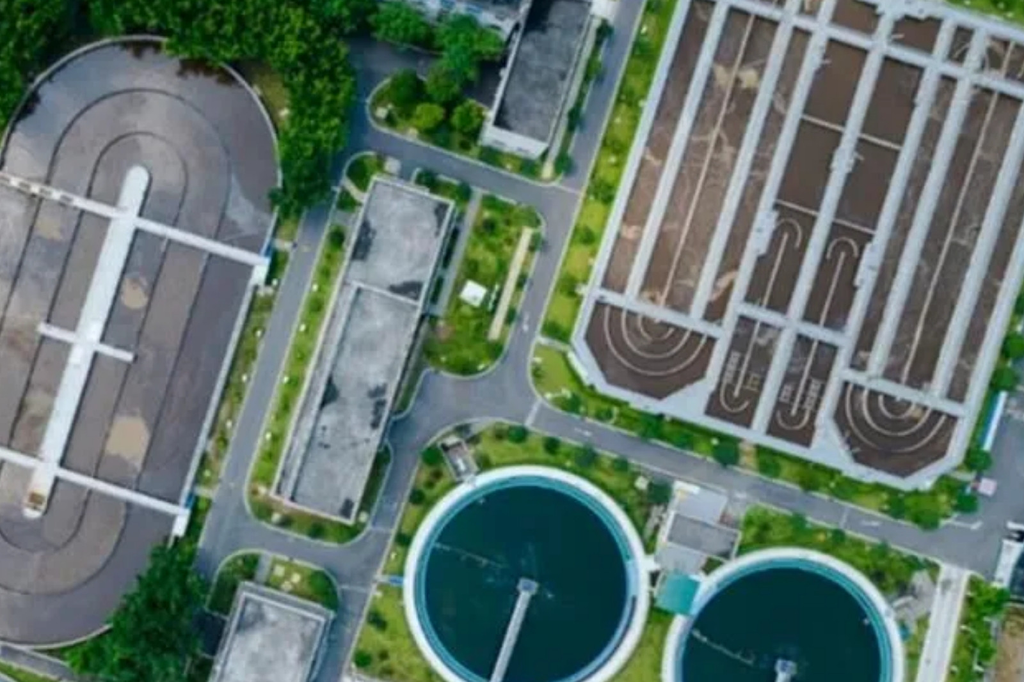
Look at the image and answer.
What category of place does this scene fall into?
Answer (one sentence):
The area seen from above is an industrial area.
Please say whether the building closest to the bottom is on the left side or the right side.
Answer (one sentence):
The building closest to the bottom appears in the left half of the scene.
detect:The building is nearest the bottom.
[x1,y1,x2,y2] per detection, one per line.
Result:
[210,582,335,682]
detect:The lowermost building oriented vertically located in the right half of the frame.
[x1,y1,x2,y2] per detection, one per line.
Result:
[991,522,1024,602]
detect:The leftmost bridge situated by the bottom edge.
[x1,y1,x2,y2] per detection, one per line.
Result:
[490,593,530,682]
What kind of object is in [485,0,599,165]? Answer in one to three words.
building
